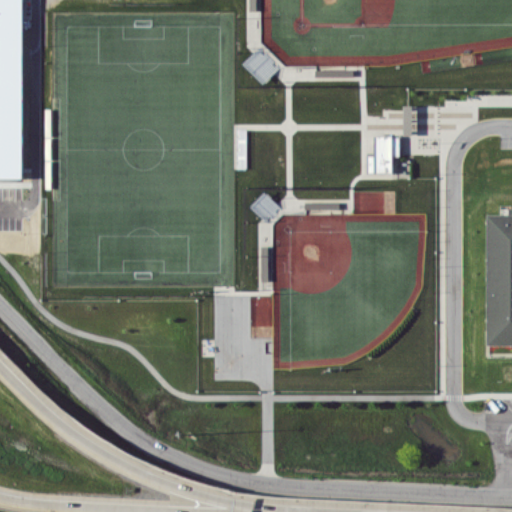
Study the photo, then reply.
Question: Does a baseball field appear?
Yes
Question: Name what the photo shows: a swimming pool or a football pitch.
football pitch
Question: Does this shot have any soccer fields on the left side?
Yes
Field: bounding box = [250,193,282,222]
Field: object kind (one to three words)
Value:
building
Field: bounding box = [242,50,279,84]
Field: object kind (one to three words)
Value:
building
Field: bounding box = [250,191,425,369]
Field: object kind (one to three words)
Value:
baseball field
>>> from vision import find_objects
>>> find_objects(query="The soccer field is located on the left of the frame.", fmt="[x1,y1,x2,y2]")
[52,13,236,288]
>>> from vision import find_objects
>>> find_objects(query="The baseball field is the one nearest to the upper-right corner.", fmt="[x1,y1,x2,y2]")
[264,0,512,74]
